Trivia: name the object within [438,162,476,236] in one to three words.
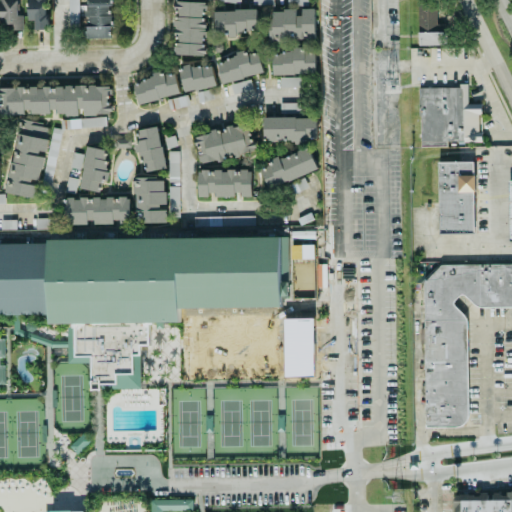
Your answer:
building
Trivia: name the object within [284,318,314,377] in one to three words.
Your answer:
shed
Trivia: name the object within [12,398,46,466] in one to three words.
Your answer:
tennis court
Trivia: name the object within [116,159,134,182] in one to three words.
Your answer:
swimming pool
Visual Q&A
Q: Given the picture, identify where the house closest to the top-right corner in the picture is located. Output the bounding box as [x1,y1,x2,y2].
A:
[419,6,444,46]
